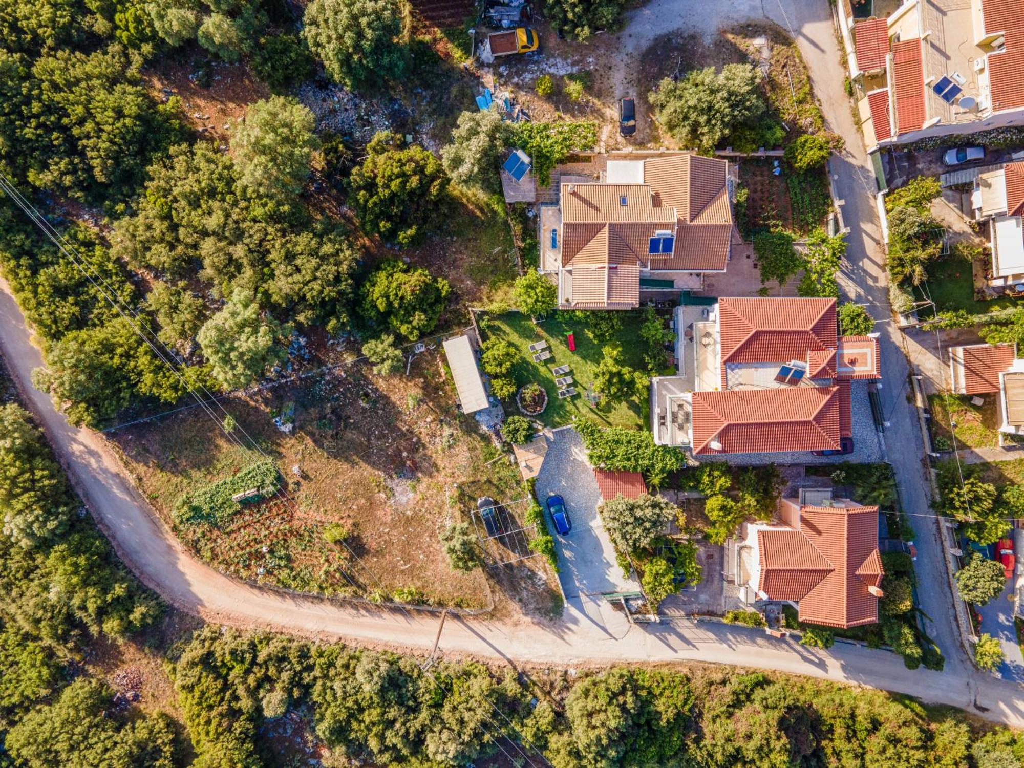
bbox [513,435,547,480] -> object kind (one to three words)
shed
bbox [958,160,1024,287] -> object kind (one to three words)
house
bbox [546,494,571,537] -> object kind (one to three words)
car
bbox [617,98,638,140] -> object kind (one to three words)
car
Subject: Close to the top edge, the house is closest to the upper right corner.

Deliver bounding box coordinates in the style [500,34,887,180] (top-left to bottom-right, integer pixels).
[847,0,1024,148]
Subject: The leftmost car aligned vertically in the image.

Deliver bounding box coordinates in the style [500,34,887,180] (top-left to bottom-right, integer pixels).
[479,496,502,538]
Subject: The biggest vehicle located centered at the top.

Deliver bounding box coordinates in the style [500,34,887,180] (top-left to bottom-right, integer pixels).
[487,26,540,56]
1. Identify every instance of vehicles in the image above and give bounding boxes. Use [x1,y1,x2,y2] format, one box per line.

[487,26,540,56]
[993,539,1017,578]
[940,145,985,168]
[479,496,502,538]
[1011,149,1024,162]
[617,98,638,140]
[811,437,854,457]
[546,494,571,537]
